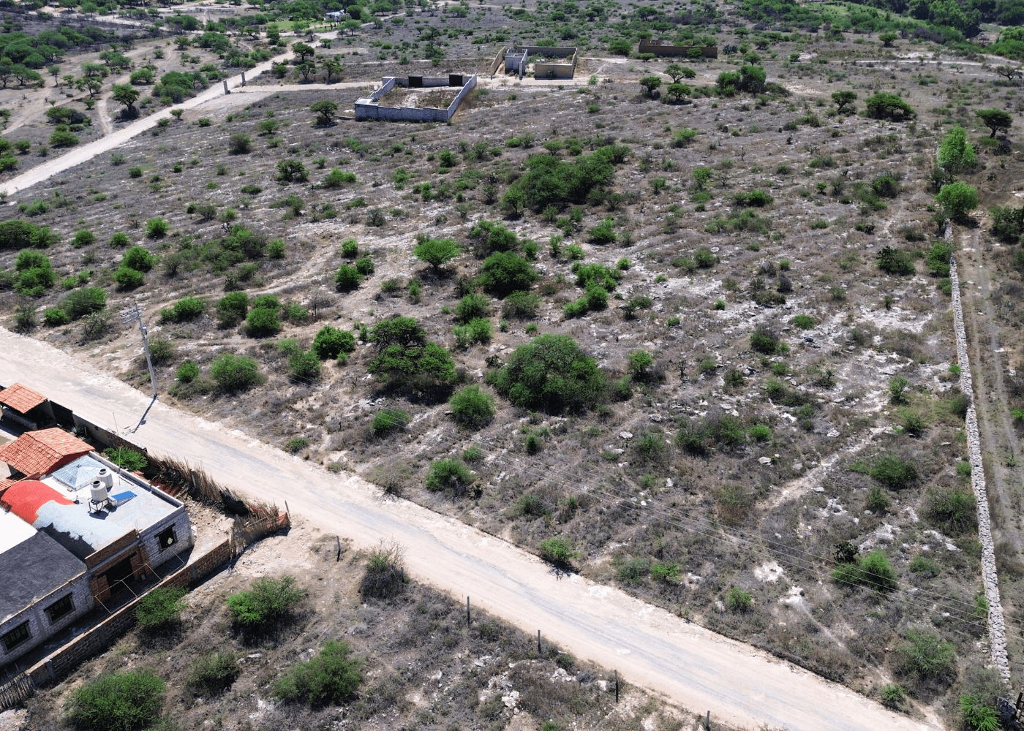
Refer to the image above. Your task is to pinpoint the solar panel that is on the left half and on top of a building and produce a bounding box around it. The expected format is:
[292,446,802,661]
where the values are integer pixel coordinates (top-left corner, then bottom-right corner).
[113,490,137,509]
